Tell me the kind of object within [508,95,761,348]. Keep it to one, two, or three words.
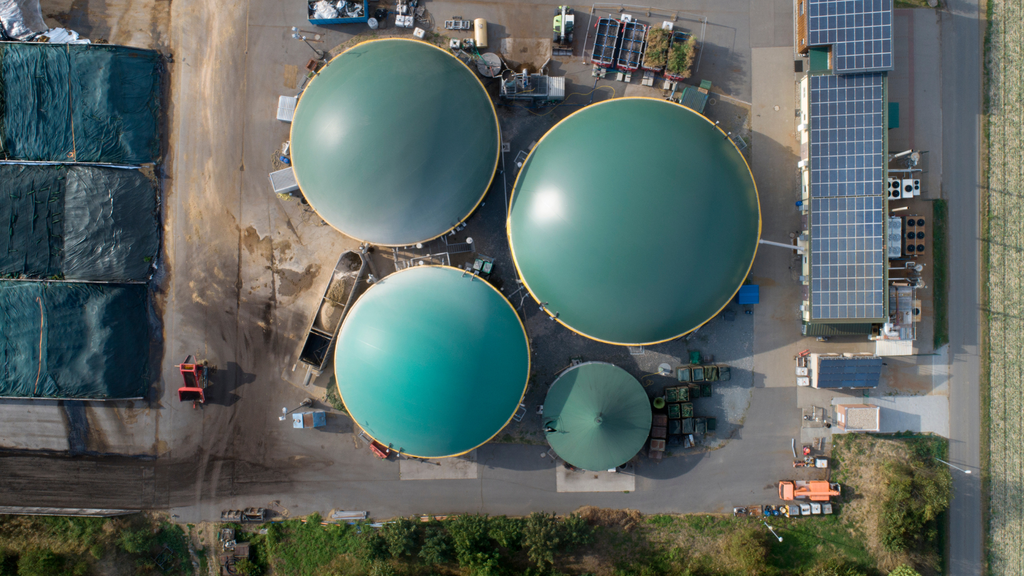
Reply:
storage tank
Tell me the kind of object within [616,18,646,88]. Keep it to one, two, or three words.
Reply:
trailer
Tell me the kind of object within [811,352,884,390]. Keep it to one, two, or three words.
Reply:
shed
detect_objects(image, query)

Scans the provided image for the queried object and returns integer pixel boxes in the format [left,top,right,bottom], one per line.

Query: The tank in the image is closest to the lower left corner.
[334,264,531,460]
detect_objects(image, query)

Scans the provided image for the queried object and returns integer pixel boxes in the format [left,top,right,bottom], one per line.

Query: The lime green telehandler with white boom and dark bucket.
[552,5,573,56]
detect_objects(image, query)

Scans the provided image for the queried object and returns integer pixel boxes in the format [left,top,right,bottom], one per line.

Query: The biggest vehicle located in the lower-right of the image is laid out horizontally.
[775,477,843,502]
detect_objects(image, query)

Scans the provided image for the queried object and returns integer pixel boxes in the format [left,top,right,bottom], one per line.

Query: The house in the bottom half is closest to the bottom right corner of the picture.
[835,404,881,431]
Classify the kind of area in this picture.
industrial area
